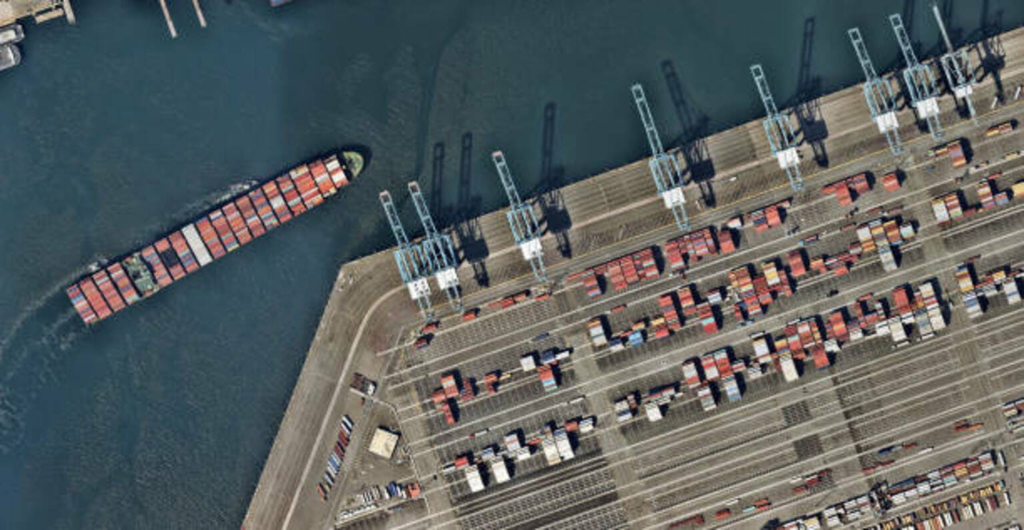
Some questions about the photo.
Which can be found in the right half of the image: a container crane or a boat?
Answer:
container crane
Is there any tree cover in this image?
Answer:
No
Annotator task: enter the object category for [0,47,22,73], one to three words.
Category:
boat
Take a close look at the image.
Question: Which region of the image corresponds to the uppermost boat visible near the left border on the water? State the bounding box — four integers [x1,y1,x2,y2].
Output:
[0,27,25,50]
